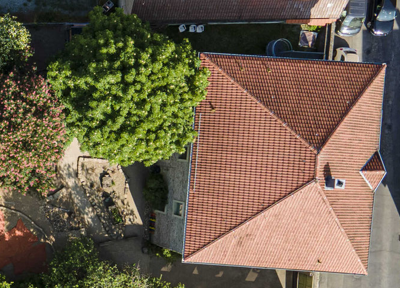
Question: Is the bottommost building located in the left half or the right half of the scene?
right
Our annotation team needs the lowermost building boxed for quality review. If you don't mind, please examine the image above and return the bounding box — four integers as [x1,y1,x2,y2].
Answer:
[149,51,389,277]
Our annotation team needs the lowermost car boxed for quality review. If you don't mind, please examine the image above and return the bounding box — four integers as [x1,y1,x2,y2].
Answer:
[333,38,359,61]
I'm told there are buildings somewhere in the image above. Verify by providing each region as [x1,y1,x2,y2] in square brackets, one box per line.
[118,0,350,27]
[149,51,389,277]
